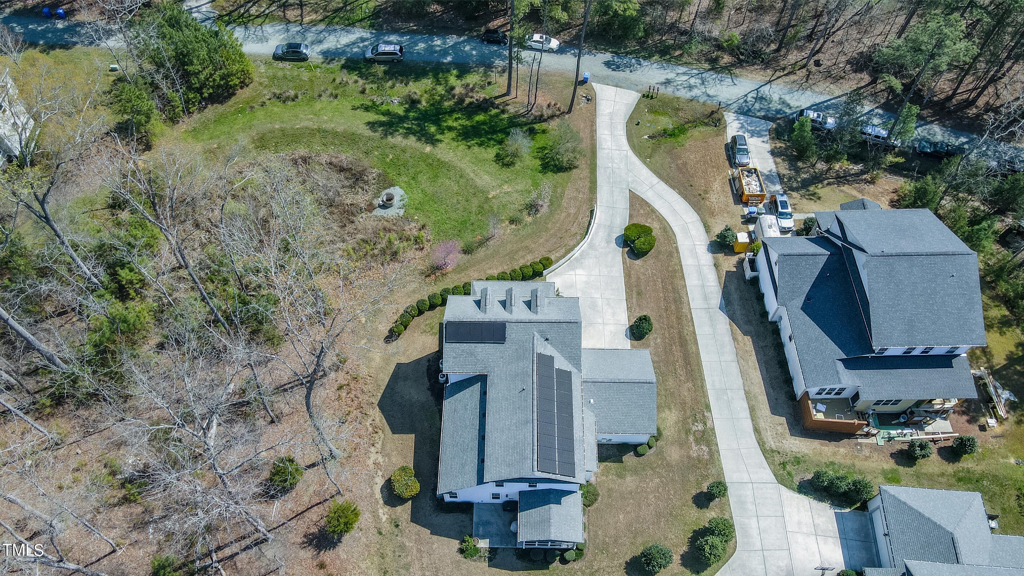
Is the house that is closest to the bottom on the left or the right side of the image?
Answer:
right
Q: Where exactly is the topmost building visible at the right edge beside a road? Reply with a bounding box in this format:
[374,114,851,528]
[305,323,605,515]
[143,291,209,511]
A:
[754,199,987,432]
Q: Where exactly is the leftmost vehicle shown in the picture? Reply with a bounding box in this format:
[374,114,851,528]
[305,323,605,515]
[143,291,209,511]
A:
[272,42,311,61]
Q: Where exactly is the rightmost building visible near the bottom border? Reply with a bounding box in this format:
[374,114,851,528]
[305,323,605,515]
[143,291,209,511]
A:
[852,485,1024,576]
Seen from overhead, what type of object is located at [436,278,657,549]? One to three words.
house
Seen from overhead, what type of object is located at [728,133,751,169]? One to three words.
car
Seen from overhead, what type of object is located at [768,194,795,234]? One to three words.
car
